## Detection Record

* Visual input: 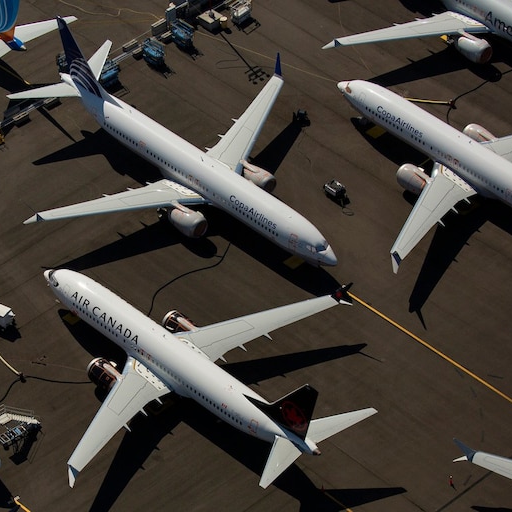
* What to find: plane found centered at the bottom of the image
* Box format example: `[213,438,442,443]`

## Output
[44,269,377,488]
